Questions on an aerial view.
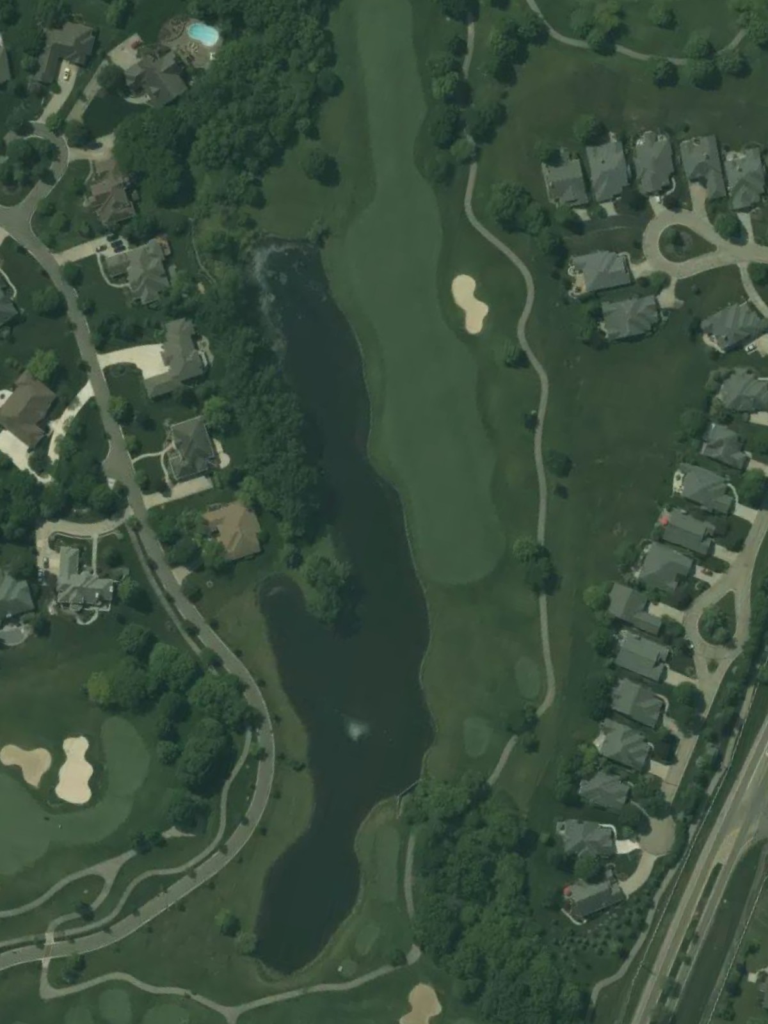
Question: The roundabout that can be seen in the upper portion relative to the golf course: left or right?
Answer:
right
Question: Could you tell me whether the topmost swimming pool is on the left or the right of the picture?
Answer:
left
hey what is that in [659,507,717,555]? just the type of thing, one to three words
house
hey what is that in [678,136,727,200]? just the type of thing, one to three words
house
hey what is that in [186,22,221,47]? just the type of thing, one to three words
swimming pool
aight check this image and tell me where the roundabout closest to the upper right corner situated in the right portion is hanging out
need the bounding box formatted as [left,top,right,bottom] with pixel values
[642,209,768,280]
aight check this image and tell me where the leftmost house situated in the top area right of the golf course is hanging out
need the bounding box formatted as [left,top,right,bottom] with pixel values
[546,161,589,208]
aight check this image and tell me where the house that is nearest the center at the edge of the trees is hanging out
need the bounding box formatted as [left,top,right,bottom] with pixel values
[202,501,266,563]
